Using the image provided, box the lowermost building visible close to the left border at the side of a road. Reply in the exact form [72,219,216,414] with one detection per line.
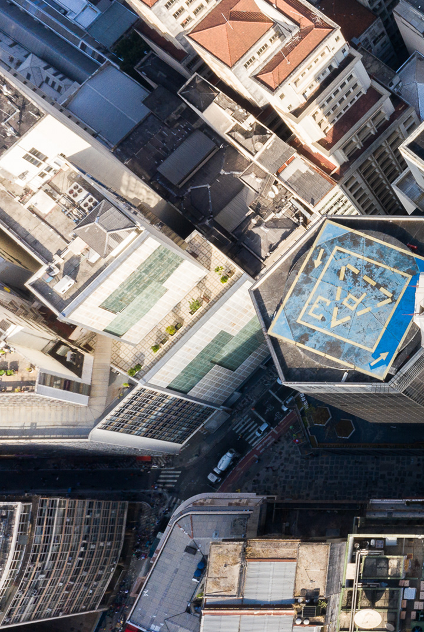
[0,497,127,632]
